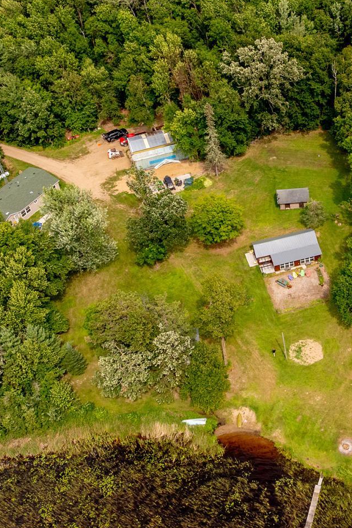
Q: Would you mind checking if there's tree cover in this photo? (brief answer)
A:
Yes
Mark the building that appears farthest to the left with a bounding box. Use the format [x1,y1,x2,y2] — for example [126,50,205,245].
[0,167,58,230]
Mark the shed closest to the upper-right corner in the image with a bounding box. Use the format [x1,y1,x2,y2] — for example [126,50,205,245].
[276,186,307,211]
